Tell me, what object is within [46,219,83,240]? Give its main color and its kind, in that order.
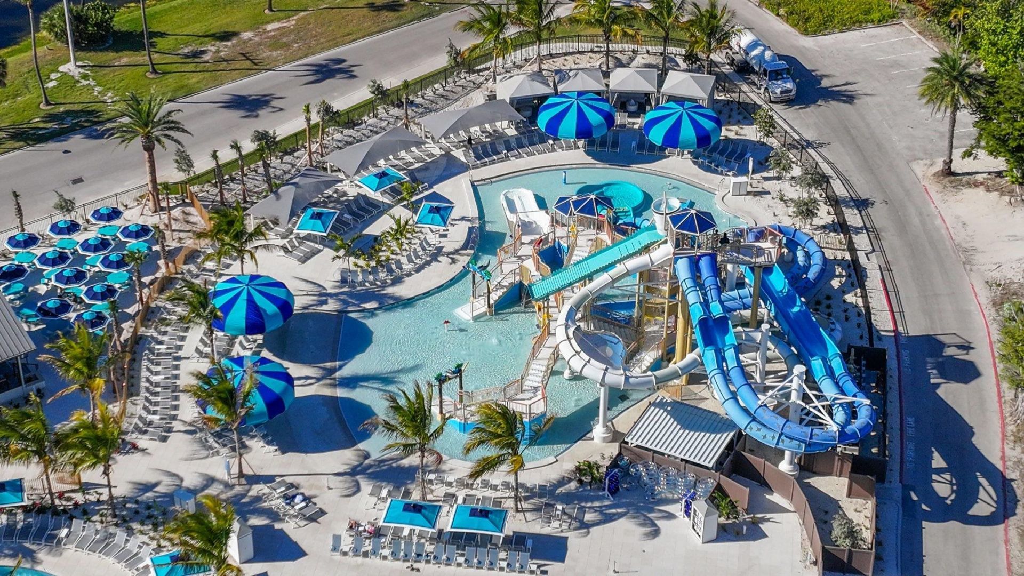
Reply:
blue umbrella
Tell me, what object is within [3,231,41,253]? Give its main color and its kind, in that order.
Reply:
blue umbrella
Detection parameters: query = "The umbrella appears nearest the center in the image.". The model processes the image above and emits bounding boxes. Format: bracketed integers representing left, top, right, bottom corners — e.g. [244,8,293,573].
[415,202,455,242]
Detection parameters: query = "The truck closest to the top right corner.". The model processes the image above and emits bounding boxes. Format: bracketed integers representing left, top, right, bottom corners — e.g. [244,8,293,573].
[725,21,800,106]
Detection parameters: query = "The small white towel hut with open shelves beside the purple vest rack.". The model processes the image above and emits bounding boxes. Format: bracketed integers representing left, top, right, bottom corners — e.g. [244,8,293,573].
[690,496,720,544]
